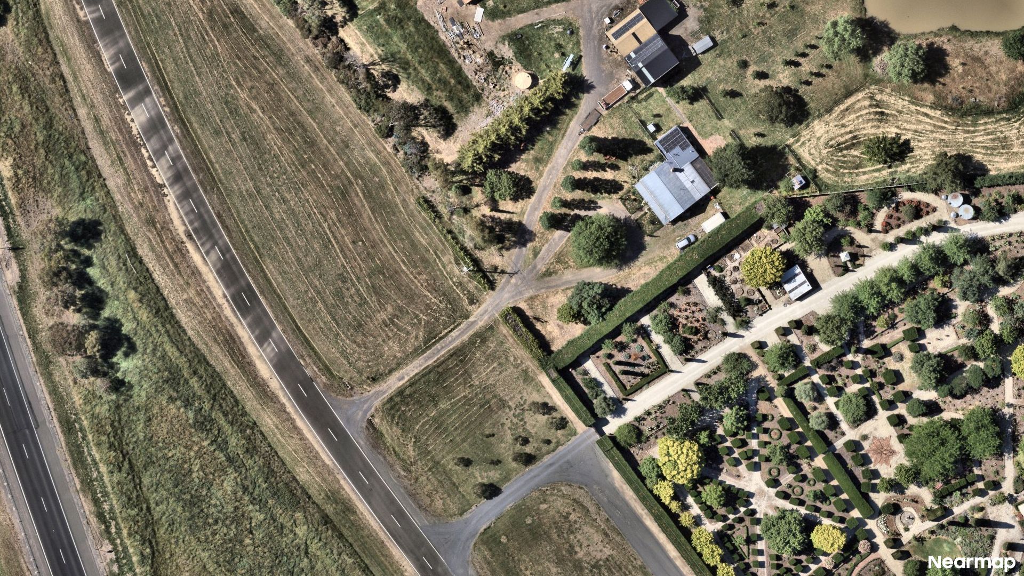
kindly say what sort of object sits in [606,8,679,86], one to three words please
shed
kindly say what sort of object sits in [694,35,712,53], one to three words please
camper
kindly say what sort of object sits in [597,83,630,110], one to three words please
truck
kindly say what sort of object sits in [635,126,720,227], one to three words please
house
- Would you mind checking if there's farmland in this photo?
Yes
